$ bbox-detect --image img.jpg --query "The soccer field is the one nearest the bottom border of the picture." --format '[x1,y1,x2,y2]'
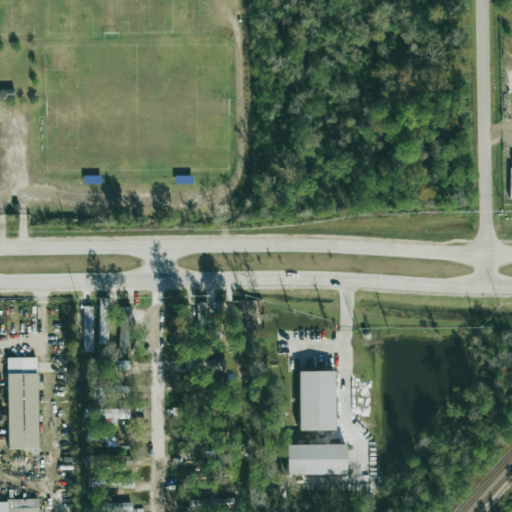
[40,40,233,173]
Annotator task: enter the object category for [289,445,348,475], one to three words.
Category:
building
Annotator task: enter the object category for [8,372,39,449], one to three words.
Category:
building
